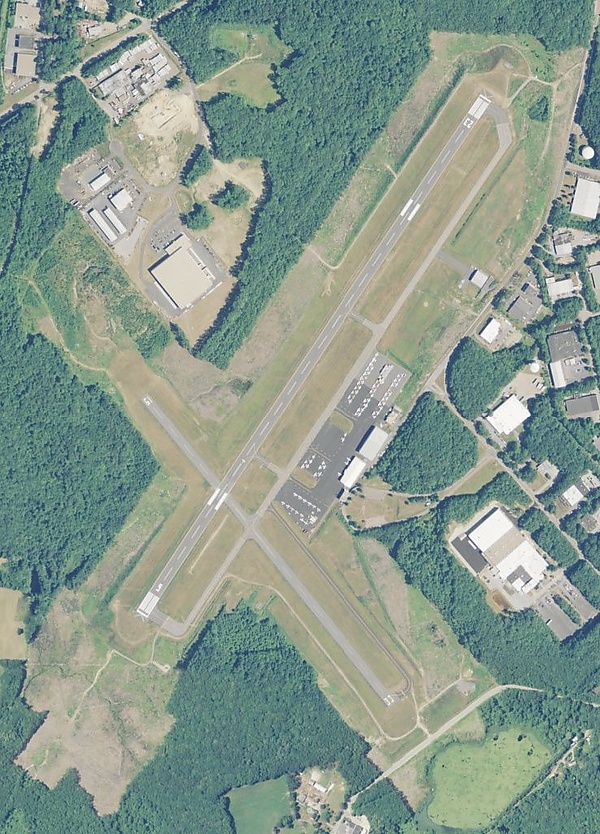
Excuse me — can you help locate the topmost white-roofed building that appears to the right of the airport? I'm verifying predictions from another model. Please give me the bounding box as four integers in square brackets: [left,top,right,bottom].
[572,178,600,218]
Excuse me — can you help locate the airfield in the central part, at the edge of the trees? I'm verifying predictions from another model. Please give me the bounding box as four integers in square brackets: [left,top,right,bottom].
[135,91,513,709]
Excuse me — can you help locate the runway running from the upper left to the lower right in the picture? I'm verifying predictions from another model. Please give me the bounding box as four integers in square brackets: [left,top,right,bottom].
[143,395,392,709]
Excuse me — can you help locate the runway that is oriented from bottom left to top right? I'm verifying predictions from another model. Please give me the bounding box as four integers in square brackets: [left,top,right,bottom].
[137,94,491,617]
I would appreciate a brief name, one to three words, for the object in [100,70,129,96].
shed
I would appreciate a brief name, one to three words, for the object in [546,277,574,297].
building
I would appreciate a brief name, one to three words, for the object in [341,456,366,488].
hangar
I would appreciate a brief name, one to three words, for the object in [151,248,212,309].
building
